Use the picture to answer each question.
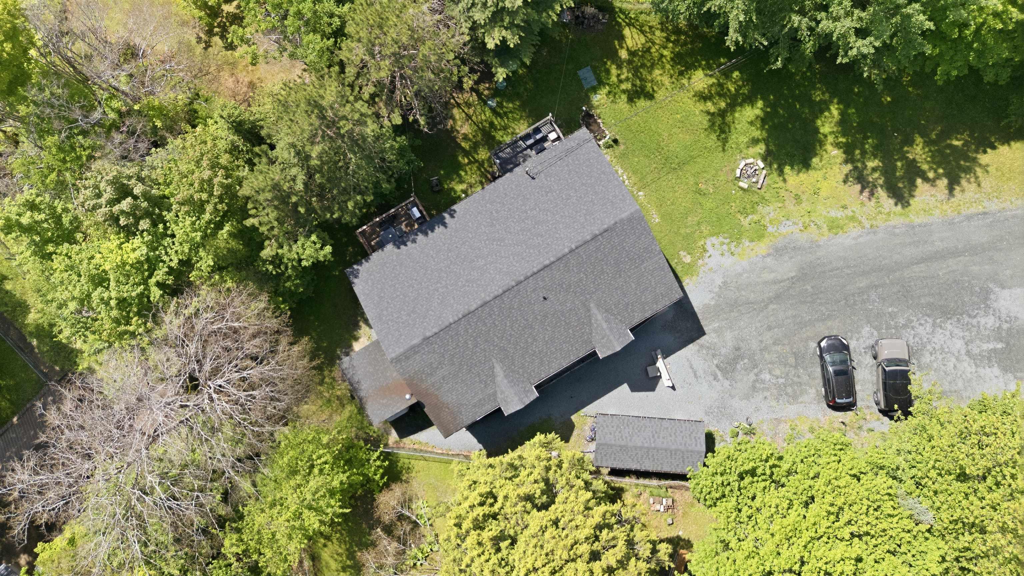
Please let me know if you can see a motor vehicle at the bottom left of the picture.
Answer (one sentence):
No, I can find no motor vehicle at the bottom left of the picture.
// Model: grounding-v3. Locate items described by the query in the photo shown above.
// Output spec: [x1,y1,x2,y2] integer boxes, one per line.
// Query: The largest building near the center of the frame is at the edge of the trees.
[338,127,684,438]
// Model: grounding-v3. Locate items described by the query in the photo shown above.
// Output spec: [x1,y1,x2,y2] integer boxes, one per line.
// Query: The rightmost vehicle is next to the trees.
[871,338,916,412]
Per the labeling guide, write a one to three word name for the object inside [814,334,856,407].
car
